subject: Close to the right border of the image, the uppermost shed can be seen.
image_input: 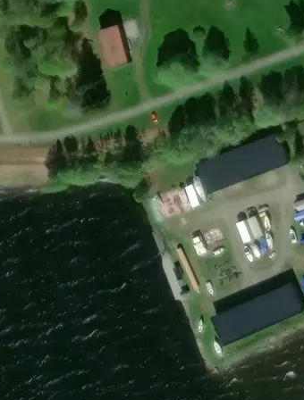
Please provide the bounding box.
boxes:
[196,134,292,194]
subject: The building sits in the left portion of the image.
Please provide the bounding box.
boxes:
[99,25,131,67]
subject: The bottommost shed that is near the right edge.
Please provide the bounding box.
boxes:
[211,282,304,347]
